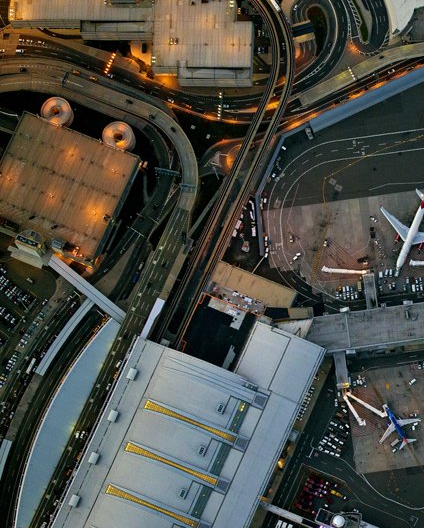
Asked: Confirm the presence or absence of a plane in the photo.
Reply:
Yes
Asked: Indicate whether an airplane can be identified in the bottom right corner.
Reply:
Yes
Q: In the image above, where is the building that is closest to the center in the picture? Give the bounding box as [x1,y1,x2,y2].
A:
[210,261,298,308]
